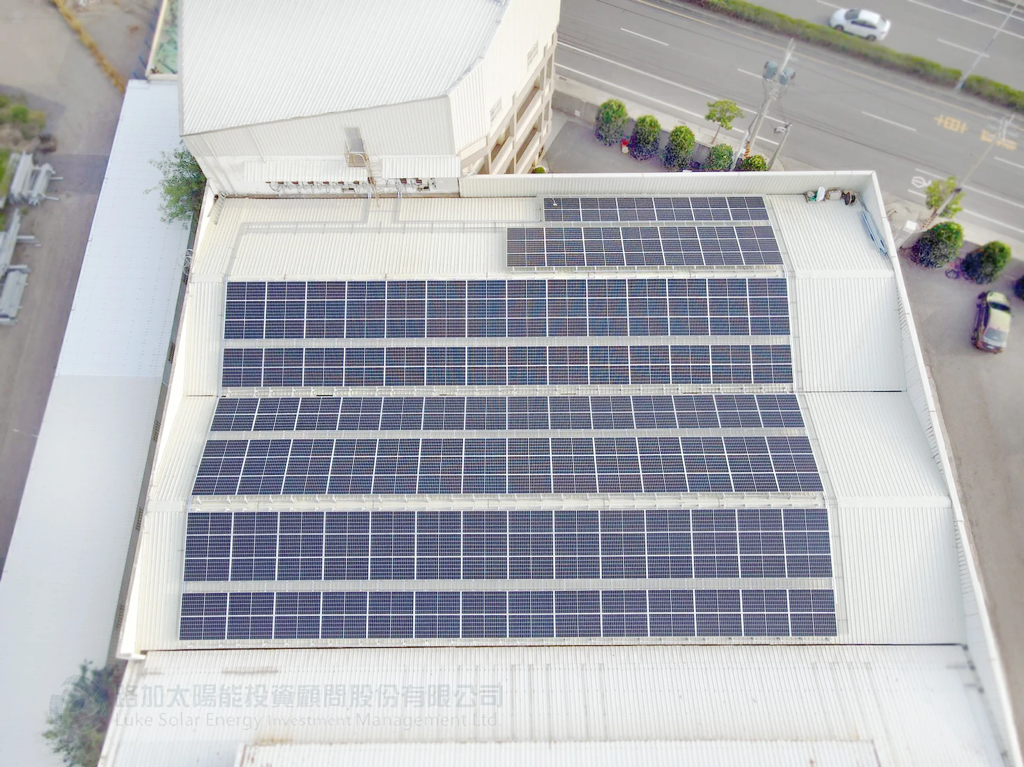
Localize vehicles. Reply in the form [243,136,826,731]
[970,289,1013,355]
[830,2,895,39]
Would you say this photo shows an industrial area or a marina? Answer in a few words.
industrial area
